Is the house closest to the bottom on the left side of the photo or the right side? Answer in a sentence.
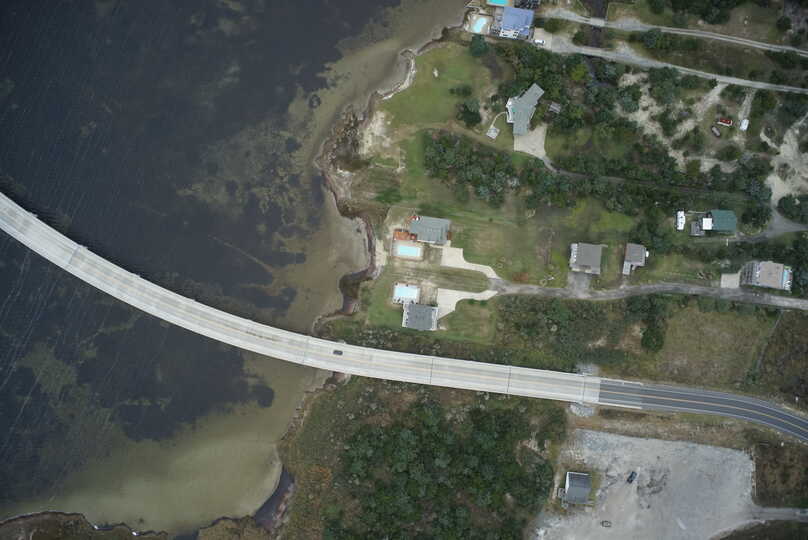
The house closest to the bottom is on the right side of the image.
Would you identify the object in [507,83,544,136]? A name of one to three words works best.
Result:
house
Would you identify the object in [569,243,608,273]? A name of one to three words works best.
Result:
house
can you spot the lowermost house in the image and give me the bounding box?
[558,471,594,509]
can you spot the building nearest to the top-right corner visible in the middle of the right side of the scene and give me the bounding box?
[690,210,737,235]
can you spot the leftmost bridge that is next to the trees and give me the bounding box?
[0,189,597,403]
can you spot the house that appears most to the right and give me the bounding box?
[739,262,784,288]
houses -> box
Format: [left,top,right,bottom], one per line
[569,243,608,273]
[402,298,438,331]
[739,262,784,288]
[622,243,646,275]
[558,471,594,509]
[489,6,534,40]
[690,210,737,235]
[507,83,544,136]
[394,216,452,243]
